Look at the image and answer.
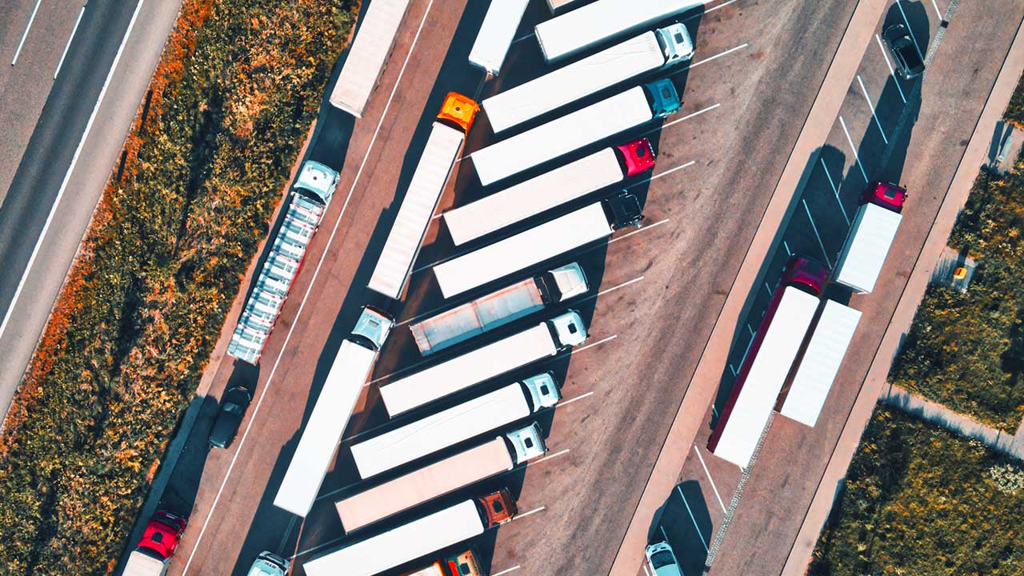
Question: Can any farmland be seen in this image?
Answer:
No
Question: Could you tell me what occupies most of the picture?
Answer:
paved ground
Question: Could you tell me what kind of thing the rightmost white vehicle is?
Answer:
truck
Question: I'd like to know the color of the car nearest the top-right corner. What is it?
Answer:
black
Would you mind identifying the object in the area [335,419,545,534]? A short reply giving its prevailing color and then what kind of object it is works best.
white truck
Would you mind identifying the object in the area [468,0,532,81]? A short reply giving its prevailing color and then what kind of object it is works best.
white truck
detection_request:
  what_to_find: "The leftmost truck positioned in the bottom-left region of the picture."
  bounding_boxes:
[122,508,190,576]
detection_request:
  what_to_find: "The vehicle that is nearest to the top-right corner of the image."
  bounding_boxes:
[883,25,927,83]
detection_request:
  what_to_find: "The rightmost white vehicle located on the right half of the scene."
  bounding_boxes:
[771,177,908,426]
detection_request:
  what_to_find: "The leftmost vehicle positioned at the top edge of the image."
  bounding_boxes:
[330,0,420,122]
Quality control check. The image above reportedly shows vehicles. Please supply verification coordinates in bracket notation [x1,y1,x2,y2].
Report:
[544,0,597,18]
[482,22,693,138]
[444,135,653,246]
[382,541,484,576]
[122,508,190,576]
[433,188,642,299]
[367,92,480,298]
[209,385,250,448]
[468,0,532,81]
[883,25,927,83]
[351,367,562,479]
[647,540,681,576]
[706,255,828,468]
[305,479,517,576]
[379,308,588,419]
[274,304,393,517]
[335,419,545,534]
[253,548,298,576]
[534,0,715,66]
[330,0,420,122]
[411,258,588,356]
[227,161,343,366]
[771,177,908,426]
[471,76,680,189]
